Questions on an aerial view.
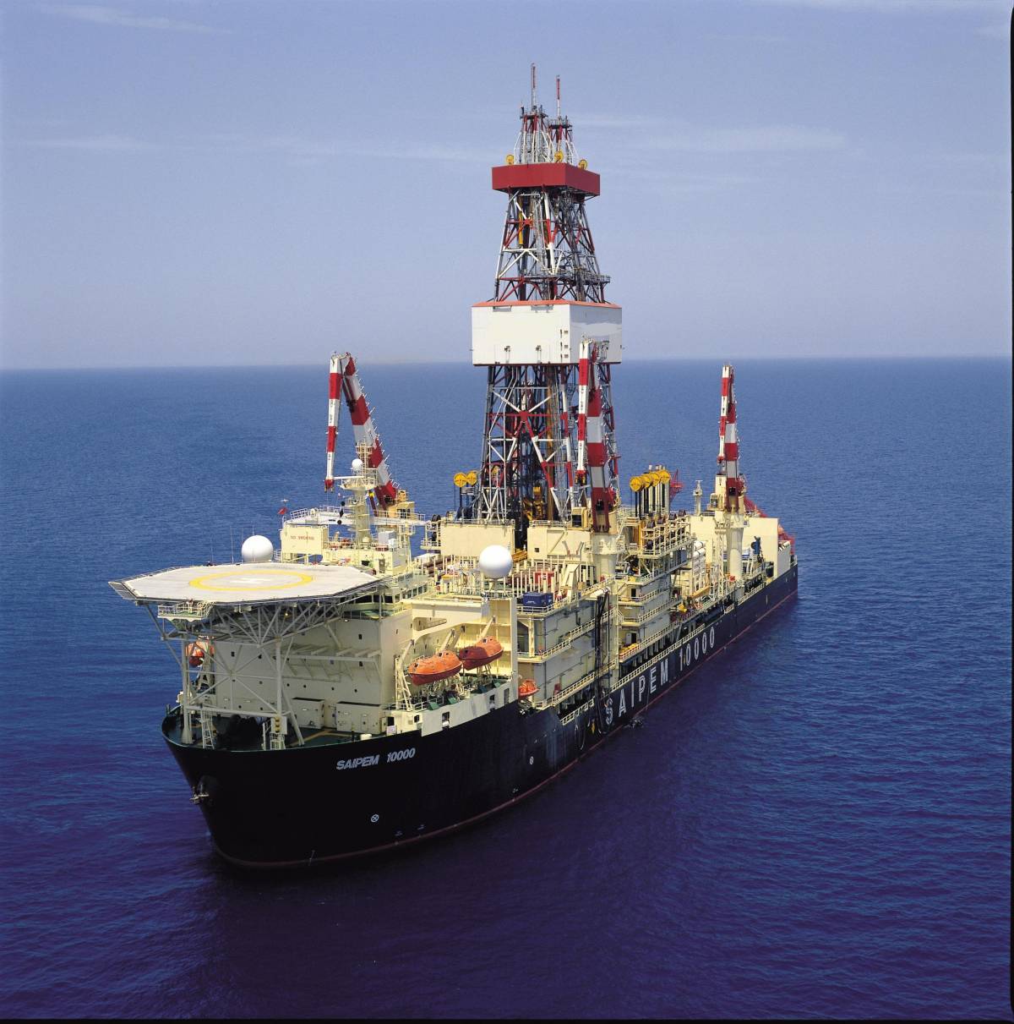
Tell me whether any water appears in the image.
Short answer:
Yes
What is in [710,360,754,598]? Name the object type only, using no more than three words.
crane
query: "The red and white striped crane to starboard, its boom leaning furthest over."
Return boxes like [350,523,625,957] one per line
[324,344,431,549]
